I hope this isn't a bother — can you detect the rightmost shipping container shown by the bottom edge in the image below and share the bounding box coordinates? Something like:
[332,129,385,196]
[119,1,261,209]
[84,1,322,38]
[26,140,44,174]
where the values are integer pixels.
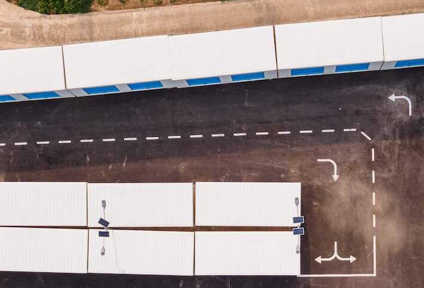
[195,232,301,276]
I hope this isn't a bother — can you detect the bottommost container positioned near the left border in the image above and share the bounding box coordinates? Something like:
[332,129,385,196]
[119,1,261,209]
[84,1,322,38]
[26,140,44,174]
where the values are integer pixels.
[0,227,90,272]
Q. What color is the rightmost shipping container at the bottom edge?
white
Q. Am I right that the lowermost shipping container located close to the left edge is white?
Yes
